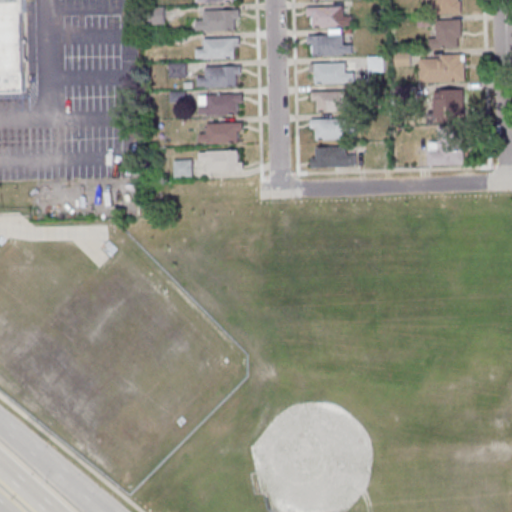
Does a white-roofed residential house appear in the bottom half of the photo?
No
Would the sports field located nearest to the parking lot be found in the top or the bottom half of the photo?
bottom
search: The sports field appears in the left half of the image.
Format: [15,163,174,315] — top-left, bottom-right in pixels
[0,226,248,494]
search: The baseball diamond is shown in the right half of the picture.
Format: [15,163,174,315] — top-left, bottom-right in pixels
[250,400,374,512]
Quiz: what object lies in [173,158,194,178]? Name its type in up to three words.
building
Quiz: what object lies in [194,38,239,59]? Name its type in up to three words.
house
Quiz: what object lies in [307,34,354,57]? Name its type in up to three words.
house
